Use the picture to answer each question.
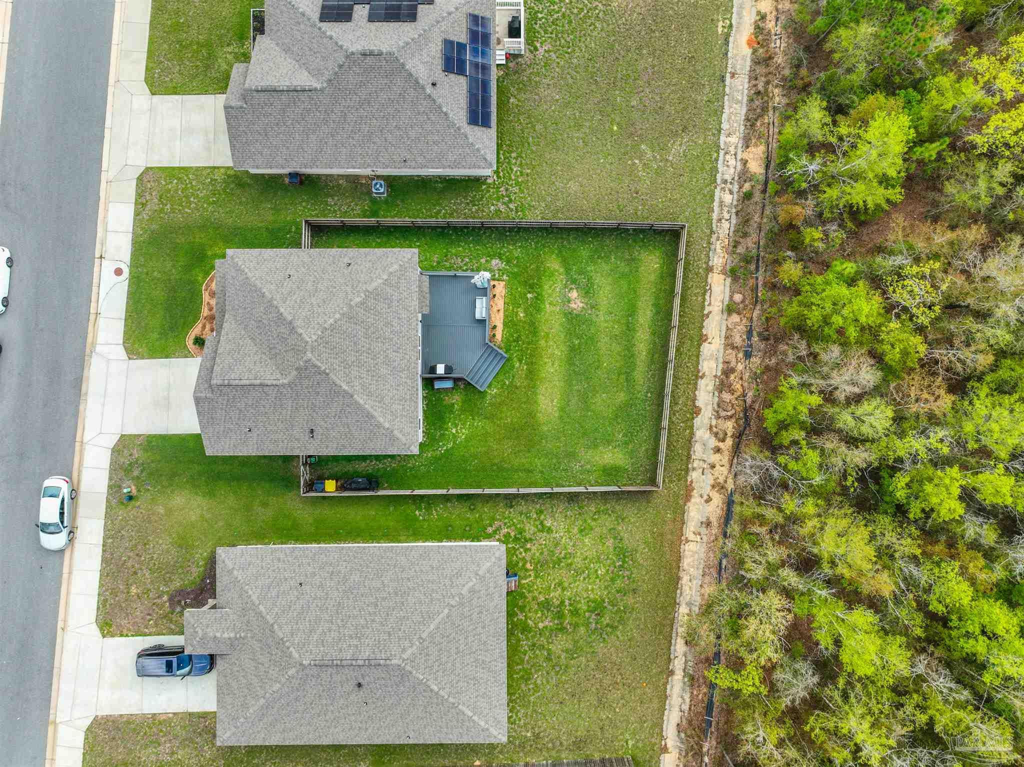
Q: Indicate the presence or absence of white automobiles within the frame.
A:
Yes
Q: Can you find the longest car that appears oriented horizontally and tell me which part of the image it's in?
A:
bottom left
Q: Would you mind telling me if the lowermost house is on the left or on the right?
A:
left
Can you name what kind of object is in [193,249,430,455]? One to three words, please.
house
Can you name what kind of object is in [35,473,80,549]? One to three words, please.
car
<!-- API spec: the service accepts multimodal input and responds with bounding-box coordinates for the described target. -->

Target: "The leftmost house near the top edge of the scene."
[222,0,496,176]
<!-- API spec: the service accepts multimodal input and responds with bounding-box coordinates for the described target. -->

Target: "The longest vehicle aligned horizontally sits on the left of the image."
[134,640,216,681]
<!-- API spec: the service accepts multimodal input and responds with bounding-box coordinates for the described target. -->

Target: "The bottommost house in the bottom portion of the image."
[184,542,506,745]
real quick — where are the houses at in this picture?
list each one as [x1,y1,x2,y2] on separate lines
[222,0,496,176]
[184,542,506,745]
[193,249,430,455]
